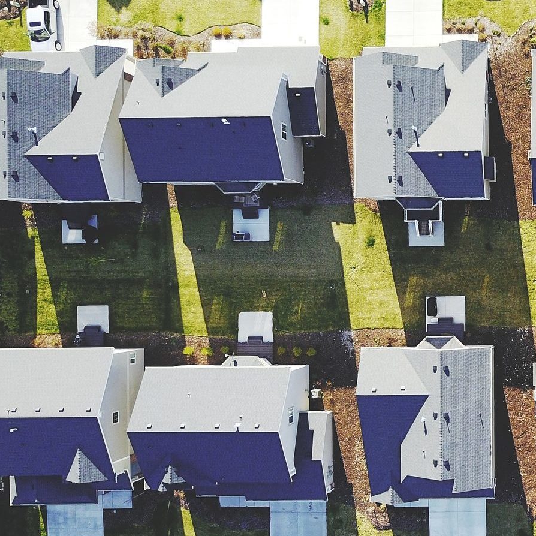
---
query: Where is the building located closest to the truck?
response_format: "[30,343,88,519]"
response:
[0,43,142,206]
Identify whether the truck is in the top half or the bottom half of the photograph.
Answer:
top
